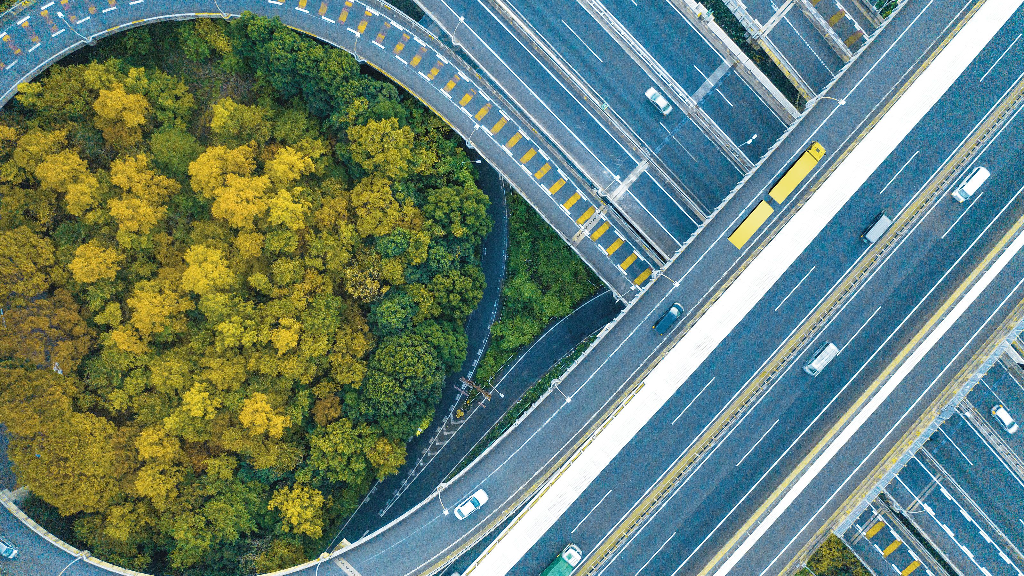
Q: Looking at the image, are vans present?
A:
Yes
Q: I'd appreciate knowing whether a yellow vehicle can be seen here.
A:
Yes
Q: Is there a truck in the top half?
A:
Yes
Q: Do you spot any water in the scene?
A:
No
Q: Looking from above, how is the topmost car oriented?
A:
on a diagonal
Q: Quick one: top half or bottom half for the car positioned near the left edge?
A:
bottom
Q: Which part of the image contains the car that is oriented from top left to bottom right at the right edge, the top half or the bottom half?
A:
bottom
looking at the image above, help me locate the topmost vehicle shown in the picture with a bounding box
[643,87,673,118]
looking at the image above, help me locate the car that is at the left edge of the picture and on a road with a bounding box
[0,527,22,556]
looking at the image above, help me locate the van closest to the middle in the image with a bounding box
[651,301,684,337]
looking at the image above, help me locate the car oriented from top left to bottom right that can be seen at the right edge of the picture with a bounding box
[986,403,1016,433]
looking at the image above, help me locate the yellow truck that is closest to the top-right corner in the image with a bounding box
[764,139,828,206]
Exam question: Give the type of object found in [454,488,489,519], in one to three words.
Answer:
car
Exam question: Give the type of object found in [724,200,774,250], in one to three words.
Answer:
trailer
